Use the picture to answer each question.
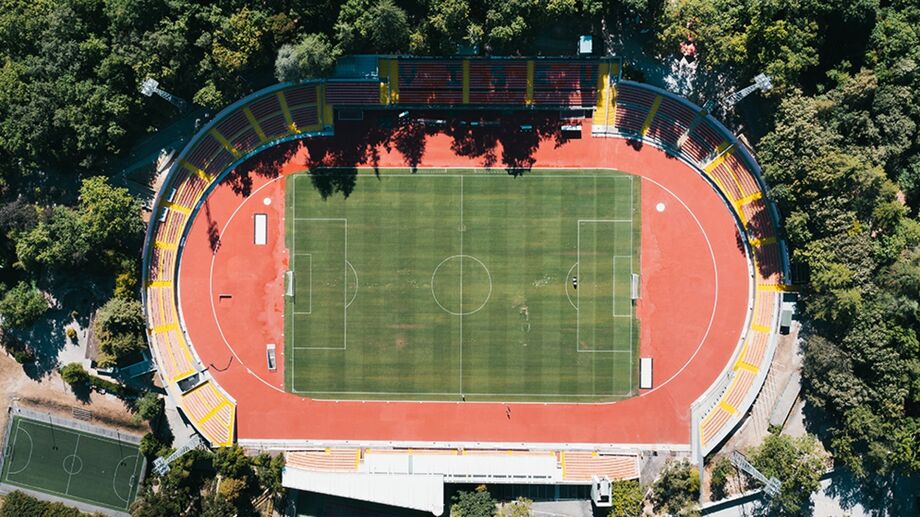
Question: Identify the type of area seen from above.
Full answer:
The area seen from above is a sports ground.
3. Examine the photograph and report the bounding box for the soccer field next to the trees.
[285,170,641,402]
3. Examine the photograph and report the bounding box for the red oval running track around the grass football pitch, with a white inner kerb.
[179,111,749,444]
